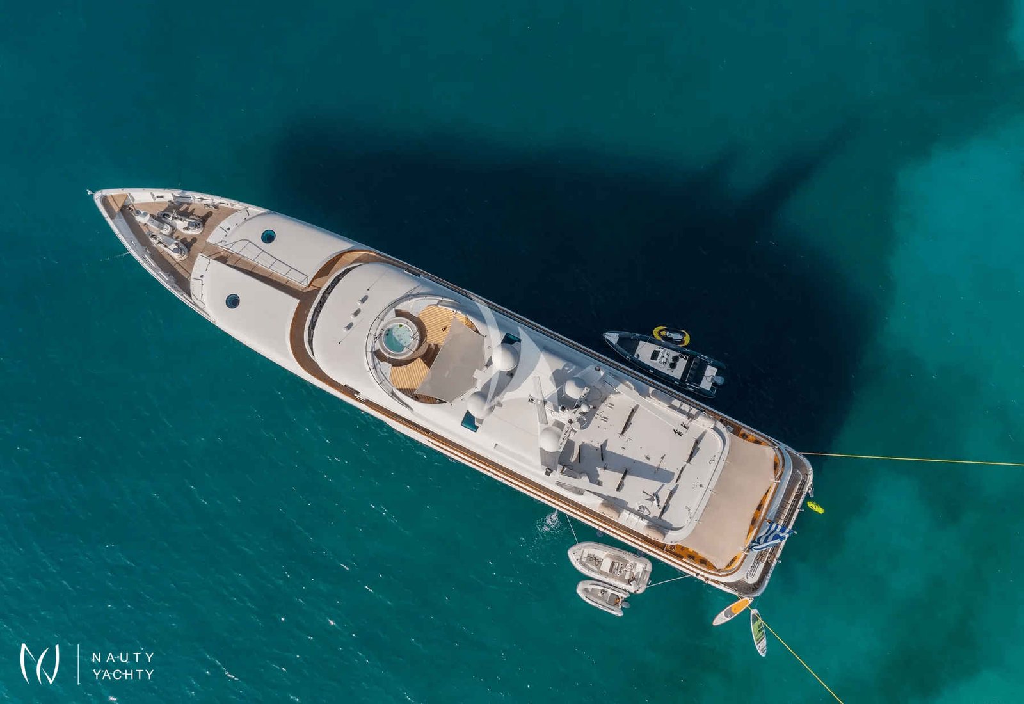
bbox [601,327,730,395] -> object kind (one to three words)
boat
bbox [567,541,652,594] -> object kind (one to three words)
boat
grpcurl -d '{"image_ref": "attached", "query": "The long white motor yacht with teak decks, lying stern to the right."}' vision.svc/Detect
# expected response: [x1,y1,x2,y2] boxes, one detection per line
[84,183,815,597]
